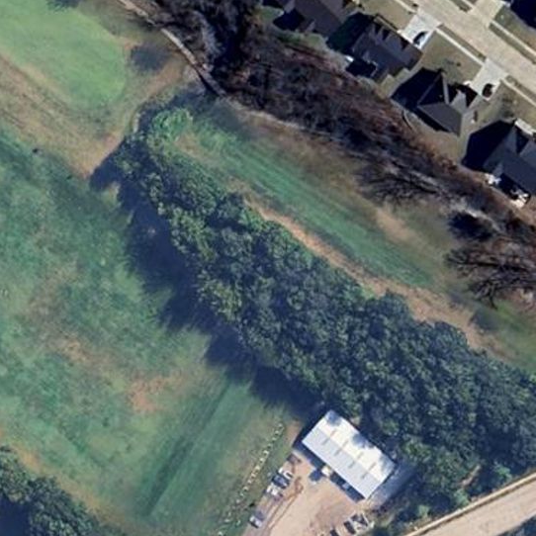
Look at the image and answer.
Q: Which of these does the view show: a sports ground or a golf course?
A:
golf course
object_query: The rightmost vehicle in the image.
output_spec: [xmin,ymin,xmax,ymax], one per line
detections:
[483,82,497,98]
